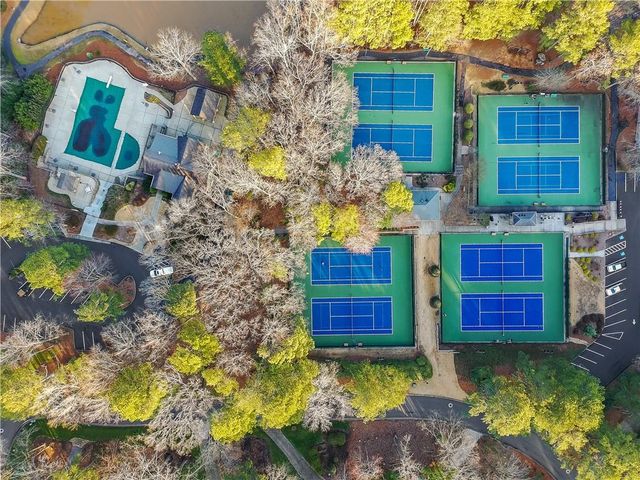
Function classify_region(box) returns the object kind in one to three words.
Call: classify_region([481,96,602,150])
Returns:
tennis court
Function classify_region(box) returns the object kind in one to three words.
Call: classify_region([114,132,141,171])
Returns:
swimming pool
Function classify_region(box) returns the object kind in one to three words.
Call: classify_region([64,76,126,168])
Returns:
swimming pool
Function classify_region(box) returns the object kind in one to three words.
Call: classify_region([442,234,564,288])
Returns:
tennis court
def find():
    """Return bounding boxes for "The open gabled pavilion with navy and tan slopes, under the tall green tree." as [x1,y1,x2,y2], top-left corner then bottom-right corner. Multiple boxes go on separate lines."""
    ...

[191,87,221,121]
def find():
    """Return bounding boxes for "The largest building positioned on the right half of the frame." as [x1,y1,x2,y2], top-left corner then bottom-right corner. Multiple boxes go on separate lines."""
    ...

[402,189,441,222]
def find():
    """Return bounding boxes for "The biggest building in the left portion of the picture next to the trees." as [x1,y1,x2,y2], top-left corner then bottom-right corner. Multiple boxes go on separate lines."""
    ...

[142,131,200,202]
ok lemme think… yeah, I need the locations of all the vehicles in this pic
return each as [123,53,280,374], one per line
[149,266,172,276]
[606,286,623,296]
[607,262,628,272]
